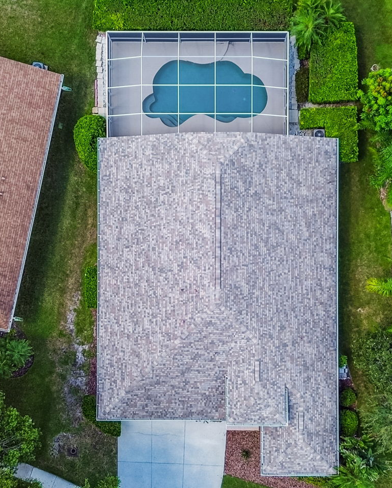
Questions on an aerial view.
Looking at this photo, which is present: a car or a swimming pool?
swimming pool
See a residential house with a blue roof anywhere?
No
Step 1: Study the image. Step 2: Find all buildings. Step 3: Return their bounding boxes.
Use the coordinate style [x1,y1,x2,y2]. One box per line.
[0,56,66,333]
[95,130,341,478]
